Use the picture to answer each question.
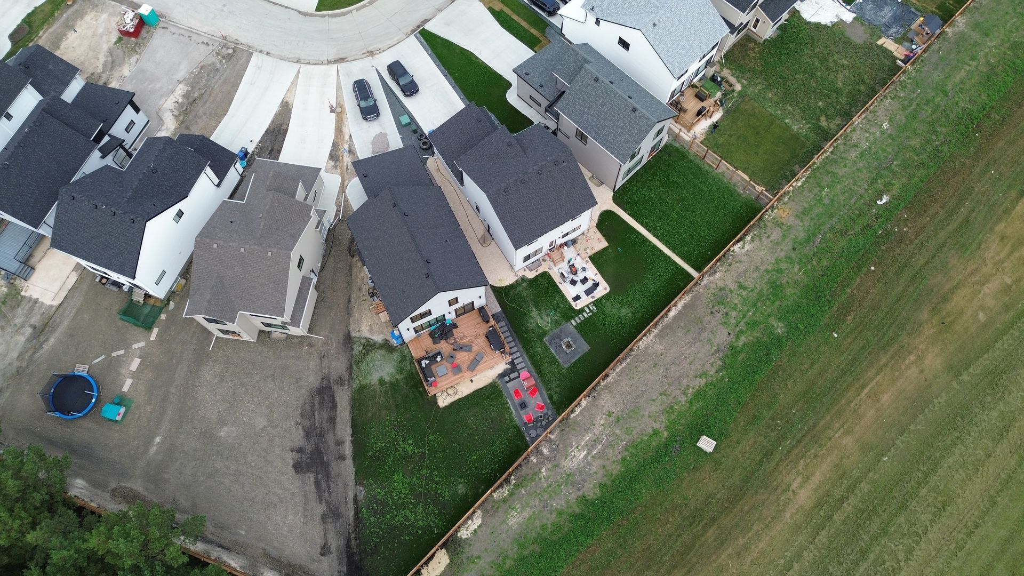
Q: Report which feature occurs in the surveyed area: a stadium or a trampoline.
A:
trampoline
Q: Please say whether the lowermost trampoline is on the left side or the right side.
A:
left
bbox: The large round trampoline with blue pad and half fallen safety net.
[37,371,105,421]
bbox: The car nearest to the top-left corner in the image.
[352,76,378,119]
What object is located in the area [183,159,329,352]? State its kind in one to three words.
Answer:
house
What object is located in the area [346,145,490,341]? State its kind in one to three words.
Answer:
house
